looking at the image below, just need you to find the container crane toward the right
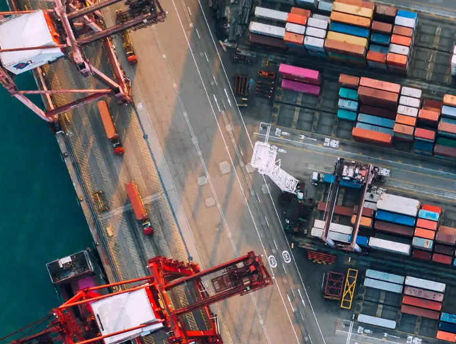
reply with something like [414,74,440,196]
[325,153,382,252]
